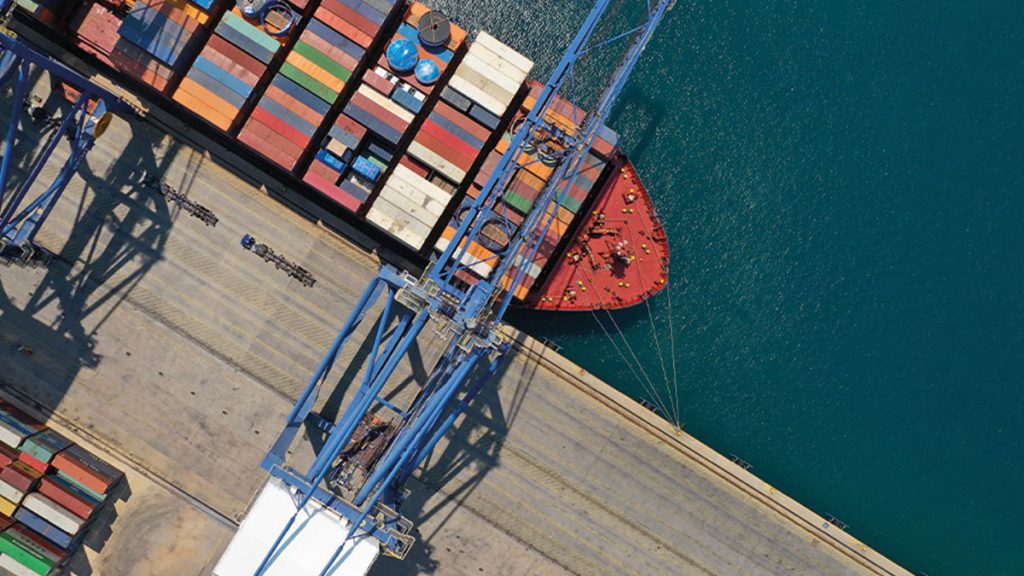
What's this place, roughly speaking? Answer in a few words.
port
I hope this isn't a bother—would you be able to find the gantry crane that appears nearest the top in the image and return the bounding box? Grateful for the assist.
[0,0,144,254]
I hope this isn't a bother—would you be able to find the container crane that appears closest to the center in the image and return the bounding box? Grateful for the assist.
[196,0,674,576]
